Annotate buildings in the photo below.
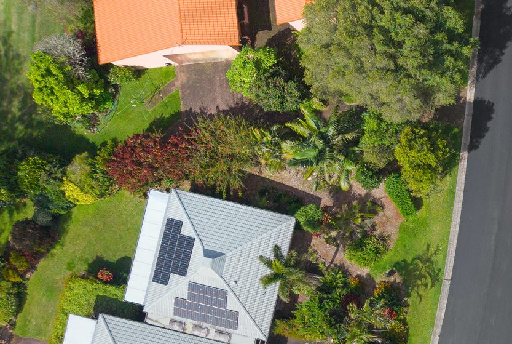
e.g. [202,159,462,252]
[97,0,242,68]
[125,188,299,344]
[277,0,333,32]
